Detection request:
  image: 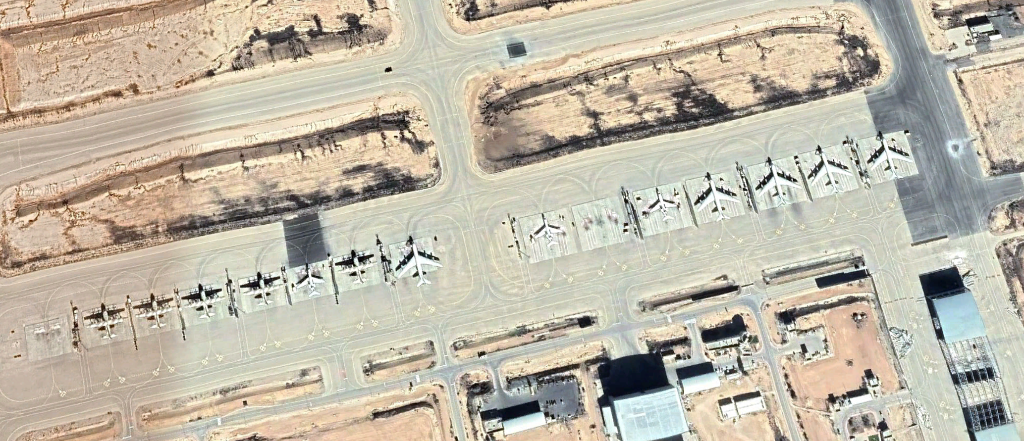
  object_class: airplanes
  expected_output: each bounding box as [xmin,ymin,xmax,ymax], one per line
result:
[400,244,443,287]
[87,311,128,340]
[339,257,378,284]
[244,280,284,306]
[297,270,326,296]
[651,193,677,221]
[137,301,177,328]
[185,291,226,319]
[876,139,912,181]
[814,152,851,194]
[535,220,563,247]
[700,180,739,222]
[761,163,800,206]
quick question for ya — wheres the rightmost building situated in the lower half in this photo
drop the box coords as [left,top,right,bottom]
[921,288,1019,441]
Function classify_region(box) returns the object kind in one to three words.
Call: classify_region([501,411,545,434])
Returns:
hangar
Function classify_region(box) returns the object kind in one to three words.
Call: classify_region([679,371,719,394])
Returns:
hangar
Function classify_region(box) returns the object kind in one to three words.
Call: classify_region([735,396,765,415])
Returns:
shed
